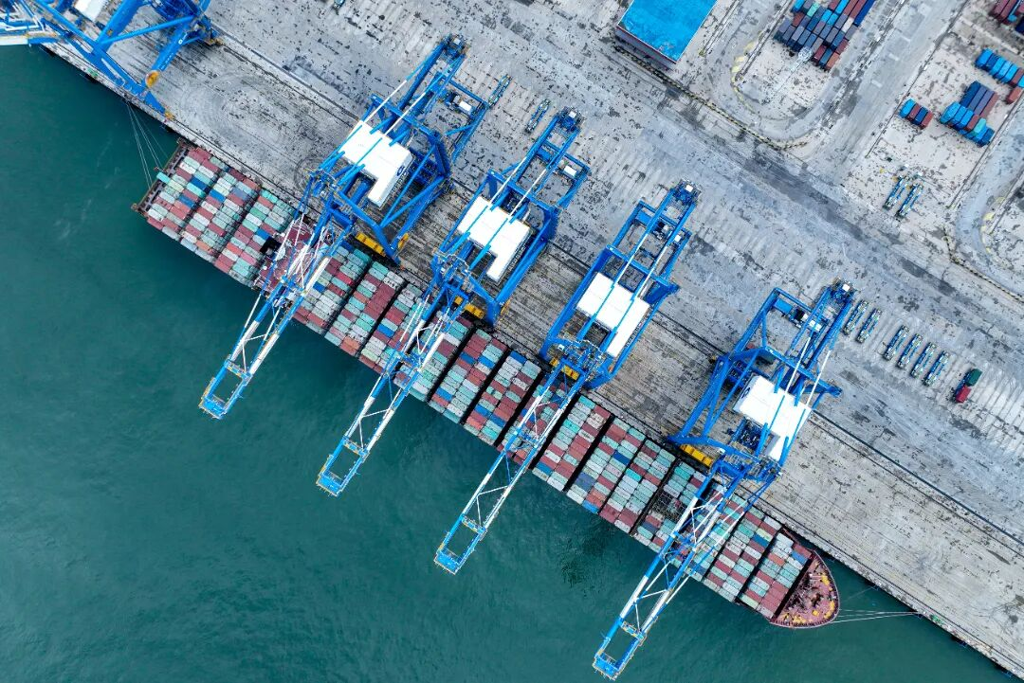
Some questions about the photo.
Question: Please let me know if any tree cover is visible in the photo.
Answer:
No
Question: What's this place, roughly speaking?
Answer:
port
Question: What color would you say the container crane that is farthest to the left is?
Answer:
blue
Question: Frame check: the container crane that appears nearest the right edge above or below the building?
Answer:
below it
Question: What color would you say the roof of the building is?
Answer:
blue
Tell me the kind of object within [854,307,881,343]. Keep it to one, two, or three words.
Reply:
vehicle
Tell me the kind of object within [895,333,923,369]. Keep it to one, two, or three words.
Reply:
vehicle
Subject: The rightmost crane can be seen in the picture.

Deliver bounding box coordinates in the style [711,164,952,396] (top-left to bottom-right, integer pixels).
[594,276,866,683]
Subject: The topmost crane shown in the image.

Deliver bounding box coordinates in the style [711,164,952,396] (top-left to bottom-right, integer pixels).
[0,0,233,125]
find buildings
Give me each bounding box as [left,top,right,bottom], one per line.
[615,0,718,71]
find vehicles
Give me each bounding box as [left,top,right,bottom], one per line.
[922,350,949,386]
[951,367,975,403]
[854,307,881,343]
[908,342,936,378]
[841,299,868,335]
[897,182,923,217]
[487,72,512,107]
[895,333,923,369]
[883,173,910,209]
[882,325,909,361]
[525,99,551,134]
